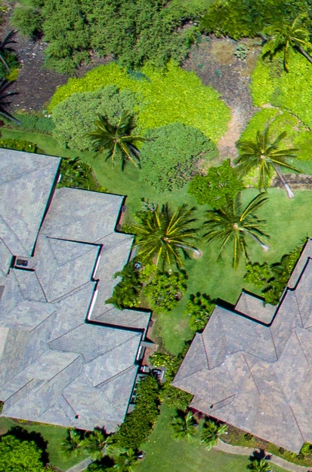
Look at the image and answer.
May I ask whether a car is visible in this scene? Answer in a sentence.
No, there is no car in the image.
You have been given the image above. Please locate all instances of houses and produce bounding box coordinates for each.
[0,147,154,435]
[171,239,312,455]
